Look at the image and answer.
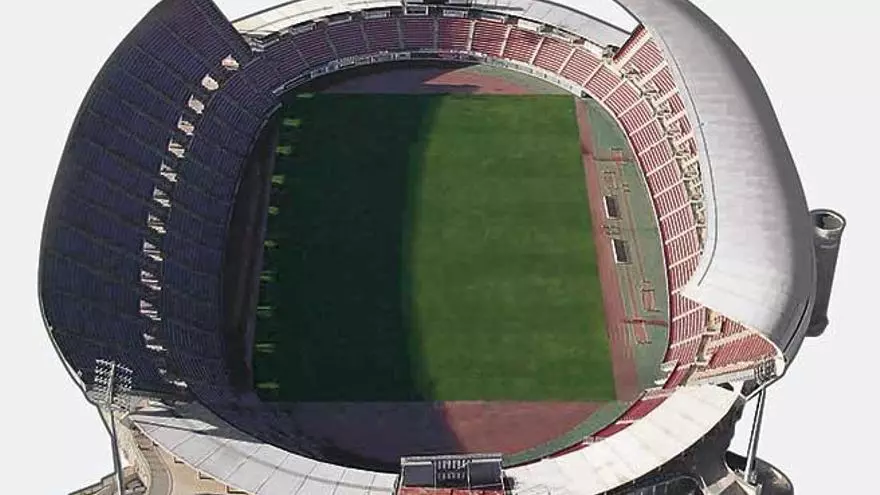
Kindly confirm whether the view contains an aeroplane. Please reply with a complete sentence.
No, no aeroplane is visible in the scene.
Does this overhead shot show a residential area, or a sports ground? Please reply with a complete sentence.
The area seen from above is a sports ground.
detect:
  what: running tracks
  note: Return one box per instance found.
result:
[226,60,668,459]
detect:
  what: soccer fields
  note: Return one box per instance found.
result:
[251,94,616,402]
